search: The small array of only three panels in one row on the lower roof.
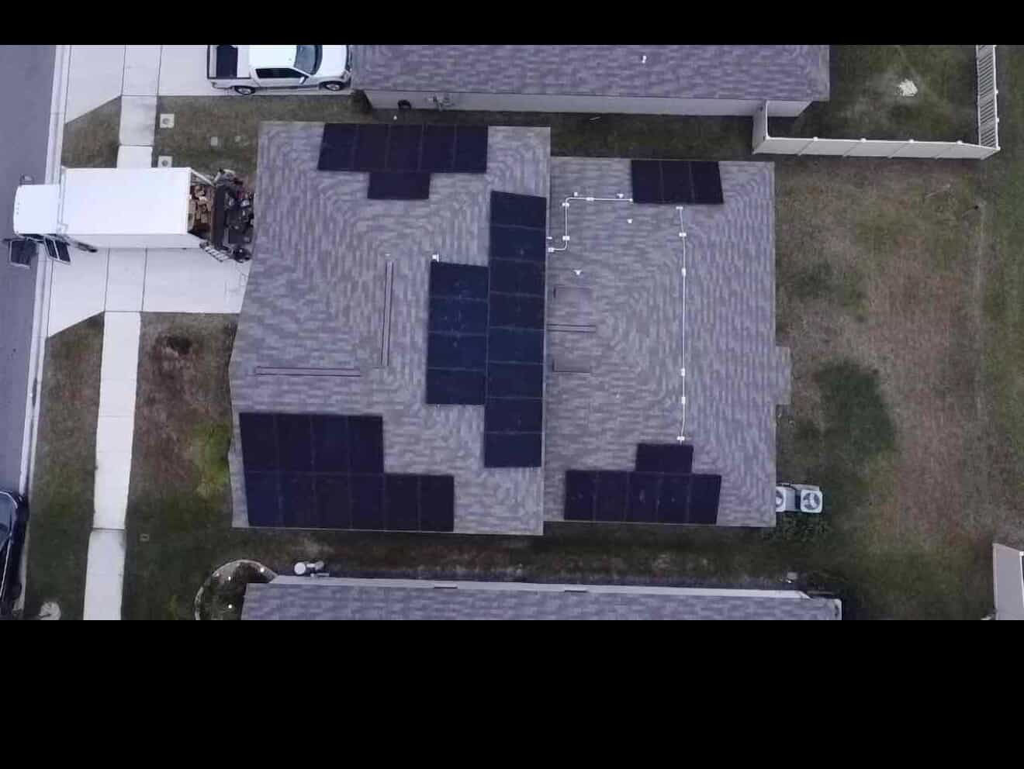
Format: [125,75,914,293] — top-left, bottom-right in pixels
[631,159,723,204]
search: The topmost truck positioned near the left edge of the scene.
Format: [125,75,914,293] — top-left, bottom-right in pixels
[3,165,235,270]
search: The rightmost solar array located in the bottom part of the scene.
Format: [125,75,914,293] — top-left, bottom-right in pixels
[564,444,721,525]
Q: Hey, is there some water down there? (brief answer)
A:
No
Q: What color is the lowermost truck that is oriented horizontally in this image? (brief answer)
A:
white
